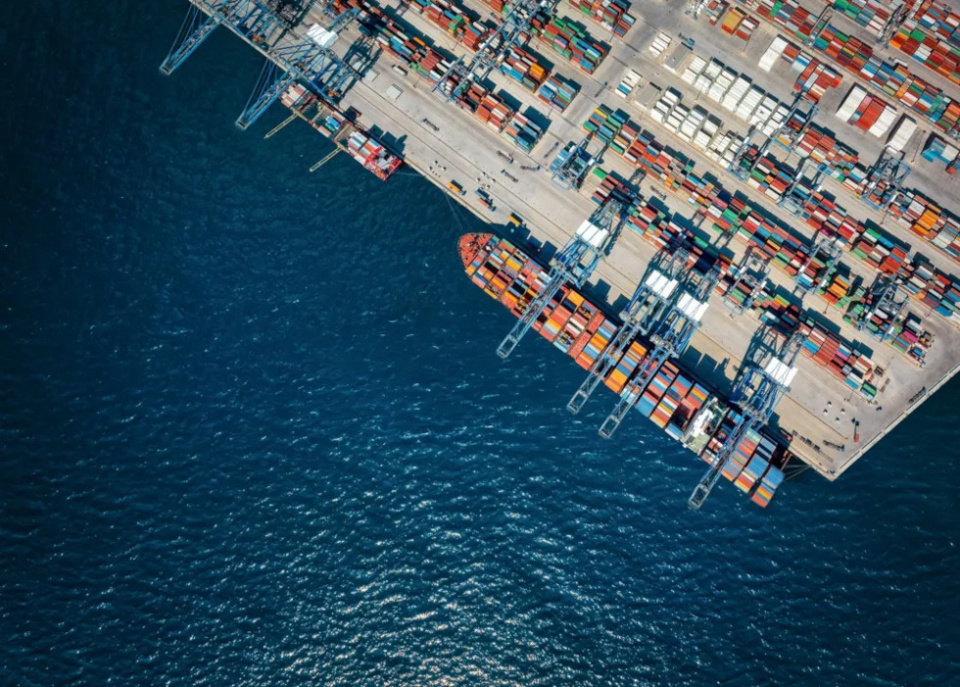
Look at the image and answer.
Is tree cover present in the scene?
No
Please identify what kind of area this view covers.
port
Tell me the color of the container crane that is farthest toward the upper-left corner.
blue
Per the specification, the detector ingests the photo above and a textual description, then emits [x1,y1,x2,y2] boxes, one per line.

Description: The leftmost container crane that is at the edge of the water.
[160,0,284,69]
